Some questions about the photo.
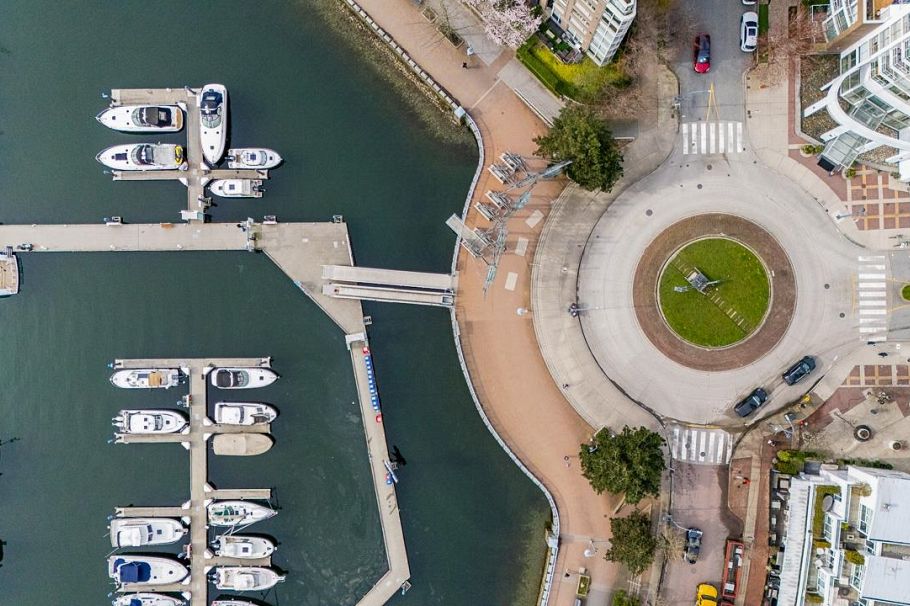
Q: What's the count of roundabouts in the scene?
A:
1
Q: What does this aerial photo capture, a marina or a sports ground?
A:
marina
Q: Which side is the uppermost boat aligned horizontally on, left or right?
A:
left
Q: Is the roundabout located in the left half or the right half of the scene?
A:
right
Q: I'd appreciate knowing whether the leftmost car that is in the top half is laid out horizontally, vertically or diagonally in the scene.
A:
vertically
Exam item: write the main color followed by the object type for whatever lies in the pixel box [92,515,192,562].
white boat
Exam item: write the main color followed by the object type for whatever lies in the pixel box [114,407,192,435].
white boat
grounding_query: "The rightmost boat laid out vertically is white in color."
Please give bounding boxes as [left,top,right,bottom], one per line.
[199,83,230,164]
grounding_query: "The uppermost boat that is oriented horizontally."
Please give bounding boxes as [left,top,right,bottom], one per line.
[93,104,188,134]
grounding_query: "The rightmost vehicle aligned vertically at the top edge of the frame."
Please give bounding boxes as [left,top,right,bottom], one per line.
[738,12,758,53]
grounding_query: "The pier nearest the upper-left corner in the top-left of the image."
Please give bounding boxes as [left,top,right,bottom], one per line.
[103,86,269,224]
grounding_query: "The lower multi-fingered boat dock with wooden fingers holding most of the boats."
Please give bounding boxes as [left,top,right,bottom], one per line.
[108,358,275,606]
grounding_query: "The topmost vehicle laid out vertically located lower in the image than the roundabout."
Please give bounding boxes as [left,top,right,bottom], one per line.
[682,525,703,565]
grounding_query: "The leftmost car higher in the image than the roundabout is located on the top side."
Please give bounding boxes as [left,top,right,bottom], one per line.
[693,33,713,75]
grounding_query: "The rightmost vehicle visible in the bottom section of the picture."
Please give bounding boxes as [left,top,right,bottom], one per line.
[778,355,817,387]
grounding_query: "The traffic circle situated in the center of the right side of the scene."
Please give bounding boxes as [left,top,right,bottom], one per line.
[632,211,798,372]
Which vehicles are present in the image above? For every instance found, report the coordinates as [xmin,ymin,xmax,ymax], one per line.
[739,0,756,5]
[778,355,817,387]
[718,538,746,606]
[697,584,717,606]
[730,386,770,419]
[693,33,713,75]
[738,12,758,53]
[682,525,703,565]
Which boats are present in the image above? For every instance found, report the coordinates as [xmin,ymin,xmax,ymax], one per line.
[211,564,286,594]
[210,533,278,562]
[106,551,191,586]
[113,590,182,606]
[0,243,25,295]
[93,104,188,134]
[222,147,283,171]
[106,367,185,389]
[114,407,192,435]
[253,414,274,426]
[205,178,269,200]
[211,432,274,457]
[92,515,192,562]
[215,400,277,427]
[212,366,278,390]
[199,83,230,164]
[172,146,179,167]
[94,142,188,172]
[209,498,279,531]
